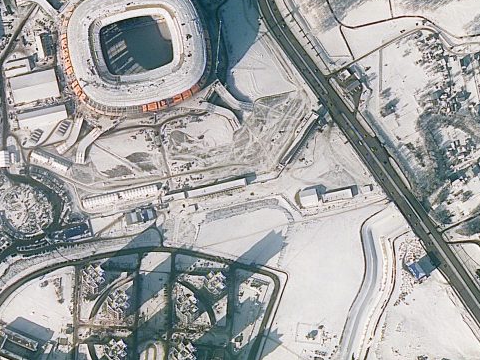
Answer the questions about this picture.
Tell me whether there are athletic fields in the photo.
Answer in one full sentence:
Yes, this view includes an athletic field.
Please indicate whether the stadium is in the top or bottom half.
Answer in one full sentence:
The stadium sits in the top half of the picture.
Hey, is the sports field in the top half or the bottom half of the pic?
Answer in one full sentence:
Seen from above, the sports field lies in the top half of the view.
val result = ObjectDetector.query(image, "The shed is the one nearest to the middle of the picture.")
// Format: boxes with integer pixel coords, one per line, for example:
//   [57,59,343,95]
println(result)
[188,178,246,198]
